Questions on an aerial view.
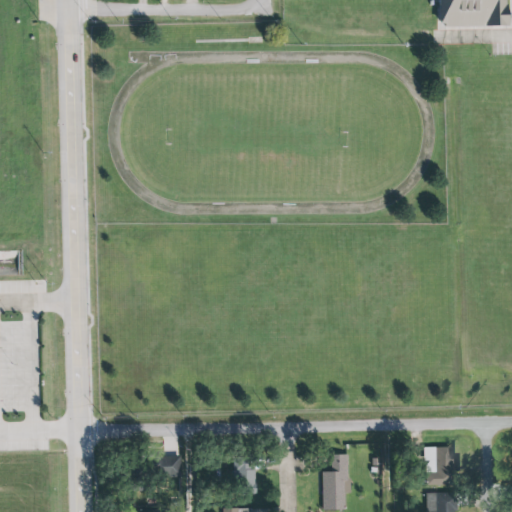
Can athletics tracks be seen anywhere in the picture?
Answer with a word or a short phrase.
Yes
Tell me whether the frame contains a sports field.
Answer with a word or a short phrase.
Yes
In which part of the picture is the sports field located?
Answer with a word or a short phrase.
top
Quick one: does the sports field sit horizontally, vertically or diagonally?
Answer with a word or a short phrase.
horizontally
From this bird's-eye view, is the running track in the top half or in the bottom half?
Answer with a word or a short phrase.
top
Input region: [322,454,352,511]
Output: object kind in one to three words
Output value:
house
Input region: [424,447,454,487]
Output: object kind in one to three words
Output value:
house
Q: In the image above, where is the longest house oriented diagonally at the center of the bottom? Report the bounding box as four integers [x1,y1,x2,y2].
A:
[234,463,258,494]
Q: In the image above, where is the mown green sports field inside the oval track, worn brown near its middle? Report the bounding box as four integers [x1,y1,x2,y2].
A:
[121,64,422,202]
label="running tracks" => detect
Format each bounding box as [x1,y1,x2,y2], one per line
[108,51,435,214]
